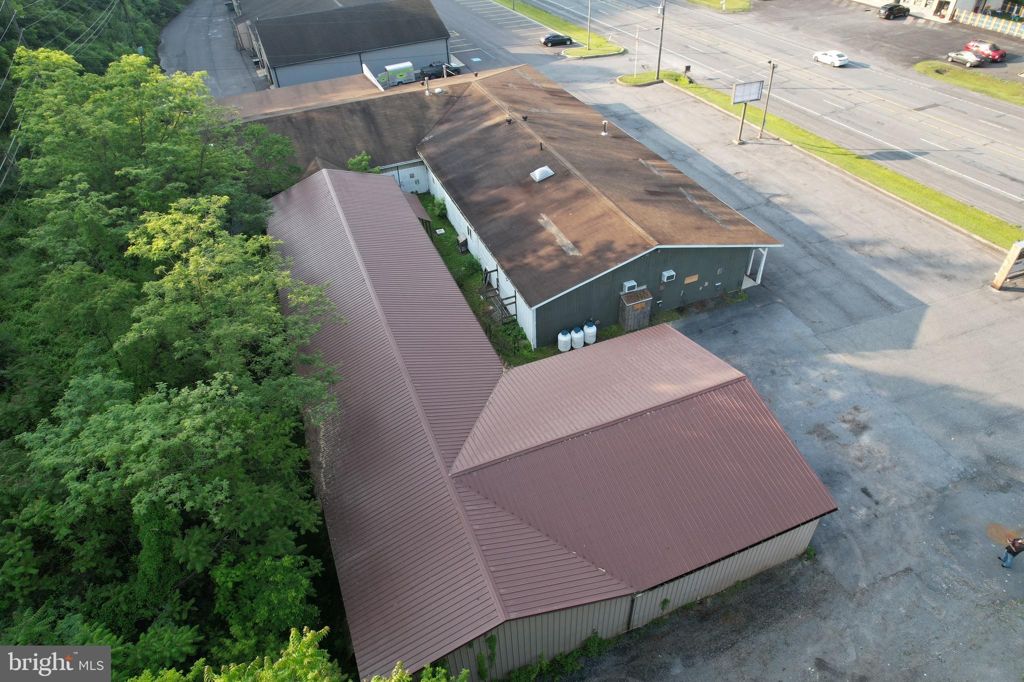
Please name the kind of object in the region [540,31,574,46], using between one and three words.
car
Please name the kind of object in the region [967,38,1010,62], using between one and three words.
car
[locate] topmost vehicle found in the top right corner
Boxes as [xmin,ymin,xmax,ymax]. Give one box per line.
[880,2,911,18]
